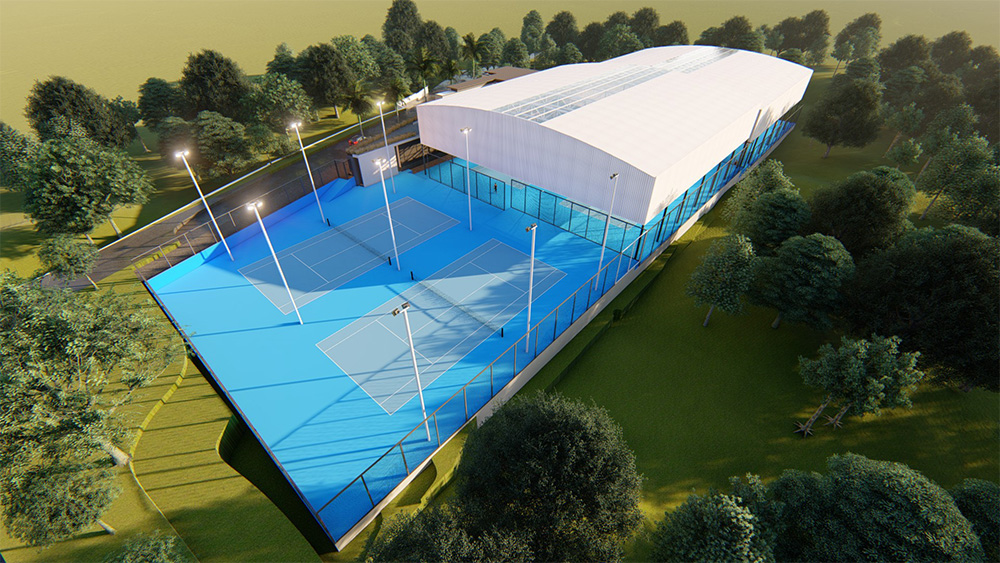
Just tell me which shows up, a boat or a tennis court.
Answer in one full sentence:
The image shows a tennis court.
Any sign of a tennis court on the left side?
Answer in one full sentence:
Yes, a tennis court shows up on the left side.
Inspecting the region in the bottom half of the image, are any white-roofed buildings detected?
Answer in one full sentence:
No, looking in the bottom half of the image, there is no white-roofed building.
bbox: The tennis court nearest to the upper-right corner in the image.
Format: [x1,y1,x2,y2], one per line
[546,193,622,224]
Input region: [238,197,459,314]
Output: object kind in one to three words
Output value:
tennis court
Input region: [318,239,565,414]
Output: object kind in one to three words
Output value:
tennis court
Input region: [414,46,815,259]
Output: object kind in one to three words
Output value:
building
